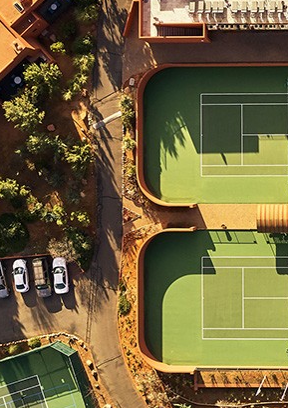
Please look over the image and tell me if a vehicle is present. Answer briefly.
Yes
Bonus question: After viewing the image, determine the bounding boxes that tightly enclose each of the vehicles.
[52,258,71,293]
[12,258,31,292]
[32,257,54,297]
[0,262,11,297]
